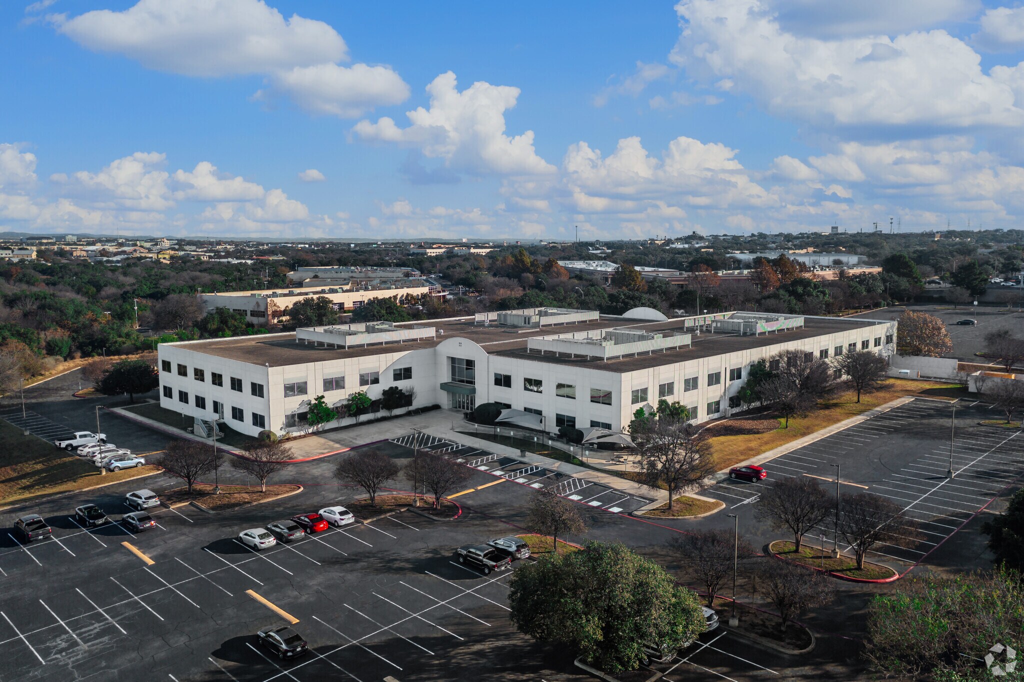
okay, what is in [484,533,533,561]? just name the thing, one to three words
car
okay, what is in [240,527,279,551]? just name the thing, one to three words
car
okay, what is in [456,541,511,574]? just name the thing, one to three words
truck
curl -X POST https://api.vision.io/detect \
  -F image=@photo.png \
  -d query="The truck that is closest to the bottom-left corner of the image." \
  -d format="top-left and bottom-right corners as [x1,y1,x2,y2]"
[16,513,53,542]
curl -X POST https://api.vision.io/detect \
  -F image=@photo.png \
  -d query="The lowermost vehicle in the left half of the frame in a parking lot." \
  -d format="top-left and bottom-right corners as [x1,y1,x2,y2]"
[258,622,312,659]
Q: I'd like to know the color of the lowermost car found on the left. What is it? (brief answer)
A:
black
